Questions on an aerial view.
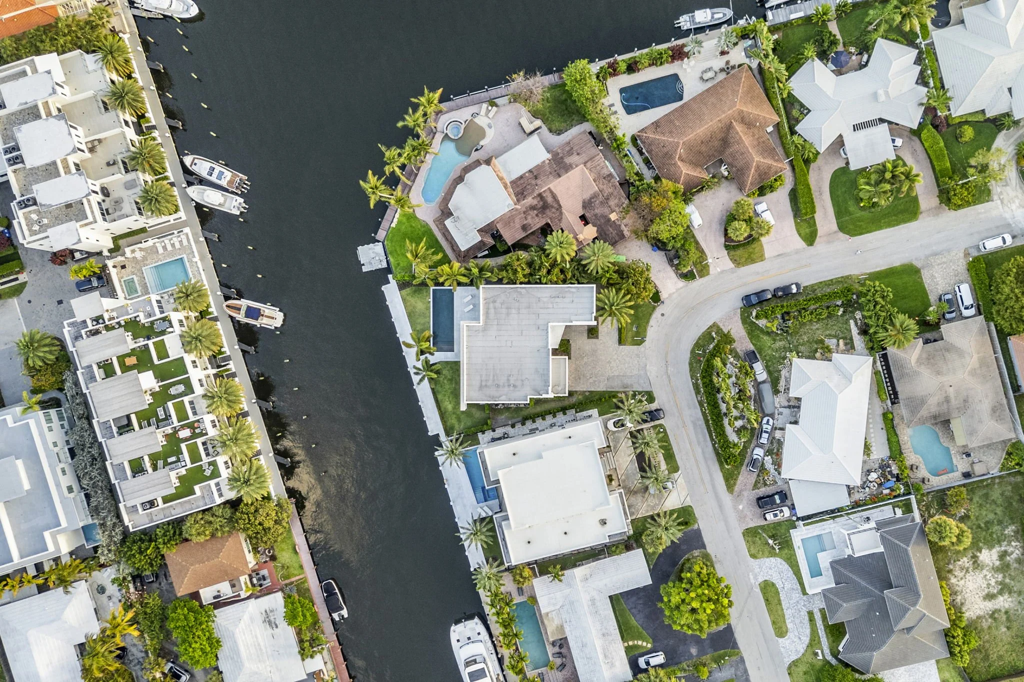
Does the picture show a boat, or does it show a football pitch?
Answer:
boat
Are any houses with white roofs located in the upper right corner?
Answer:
Yes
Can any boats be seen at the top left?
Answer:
Yes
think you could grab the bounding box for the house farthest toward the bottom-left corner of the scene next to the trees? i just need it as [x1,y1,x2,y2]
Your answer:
[0,578,107,682]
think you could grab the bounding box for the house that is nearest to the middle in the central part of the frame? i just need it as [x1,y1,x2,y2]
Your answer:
[460,284,596,411]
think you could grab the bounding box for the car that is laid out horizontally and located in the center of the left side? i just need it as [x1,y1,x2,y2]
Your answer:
[71,276,105,292]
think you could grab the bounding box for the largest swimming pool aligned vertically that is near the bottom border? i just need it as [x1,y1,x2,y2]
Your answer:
[512,600,552,673]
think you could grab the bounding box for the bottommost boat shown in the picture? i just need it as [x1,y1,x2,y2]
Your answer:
[453,620,507,682]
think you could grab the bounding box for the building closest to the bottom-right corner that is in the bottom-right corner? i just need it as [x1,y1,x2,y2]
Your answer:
[817,513,950,675]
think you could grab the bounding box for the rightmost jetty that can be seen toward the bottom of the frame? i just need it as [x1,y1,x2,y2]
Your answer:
[382,274,501,571]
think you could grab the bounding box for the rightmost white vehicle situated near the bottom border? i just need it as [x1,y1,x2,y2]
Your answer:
[638,653,667,670]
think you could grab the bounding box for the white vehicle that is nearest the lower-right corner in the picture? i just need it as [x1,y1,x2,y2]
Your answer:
[763,507,794,523]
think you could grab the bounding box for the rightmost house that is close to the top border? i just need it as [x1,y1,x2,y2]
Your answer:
[929,0,1024,121]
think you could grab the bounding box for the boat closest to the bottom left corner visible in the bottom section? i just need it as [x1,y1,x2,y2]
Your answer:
[320,582,349,625]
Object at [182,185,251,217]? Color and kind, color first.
white boat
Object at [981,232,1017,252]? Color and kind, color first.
white car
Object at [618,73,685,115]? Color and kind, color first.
blue swimming pool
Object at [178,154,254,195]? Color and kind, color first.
white boat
